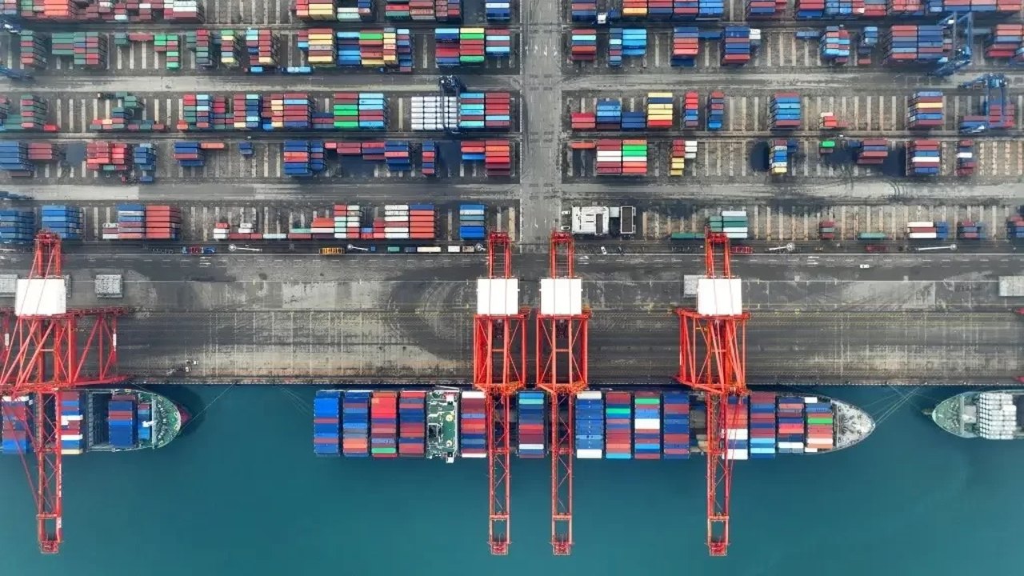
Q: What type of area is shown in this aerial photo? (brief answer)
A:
port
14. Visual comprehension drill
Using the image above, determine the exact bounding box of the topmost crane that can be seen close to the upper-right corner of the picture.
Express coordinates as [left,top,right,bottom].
[925,8,975,77]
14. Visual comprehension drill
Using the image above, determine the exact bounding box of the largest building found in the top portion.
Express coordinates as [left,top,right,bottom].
[571,207,609,235]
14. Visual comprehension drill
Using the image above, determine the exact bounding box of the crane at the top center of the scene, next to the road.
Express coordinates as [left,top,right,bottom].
[439,76,466,139]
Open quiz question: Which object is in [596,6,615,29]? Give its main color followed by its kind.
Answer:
white vehicle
